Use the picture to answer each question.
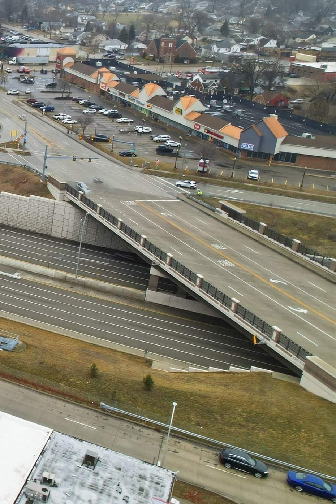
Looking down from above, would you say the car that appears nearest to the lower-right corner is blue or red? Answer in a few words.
blue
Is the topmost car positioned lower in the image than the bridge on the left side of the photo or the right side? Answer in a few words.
right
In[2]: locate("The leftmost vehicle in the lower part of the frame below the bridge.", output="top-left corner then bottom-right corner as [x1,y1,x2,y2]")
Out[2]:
[217,448,274,481]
